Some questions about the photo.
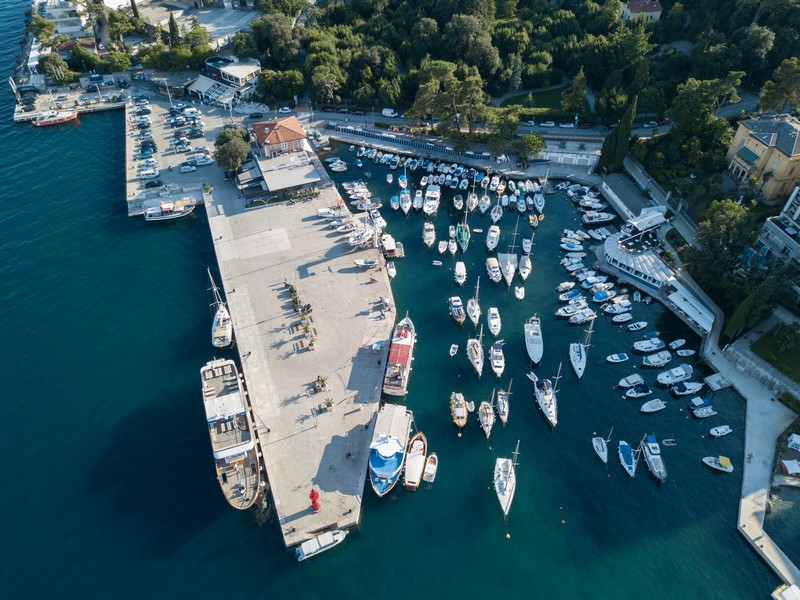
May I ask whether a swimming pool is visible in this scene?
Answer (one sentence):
No, there's no swimming pool here.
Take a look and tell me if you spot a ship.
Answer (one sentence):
Yes, this view includes a ship.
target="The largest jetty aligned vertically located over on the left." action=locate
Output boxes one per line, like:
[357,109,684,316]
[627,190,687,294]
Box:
[203,123,397,547]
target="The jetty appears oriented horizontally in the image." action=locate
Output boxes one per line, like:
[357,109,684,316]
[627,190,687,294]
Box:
[14,87,127,125]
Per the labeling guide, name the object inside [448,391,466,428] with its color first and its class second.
white boat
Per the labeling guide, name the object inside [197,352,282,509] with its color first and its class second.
white ship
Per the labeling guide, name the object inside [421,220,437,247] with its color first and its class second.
white boat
